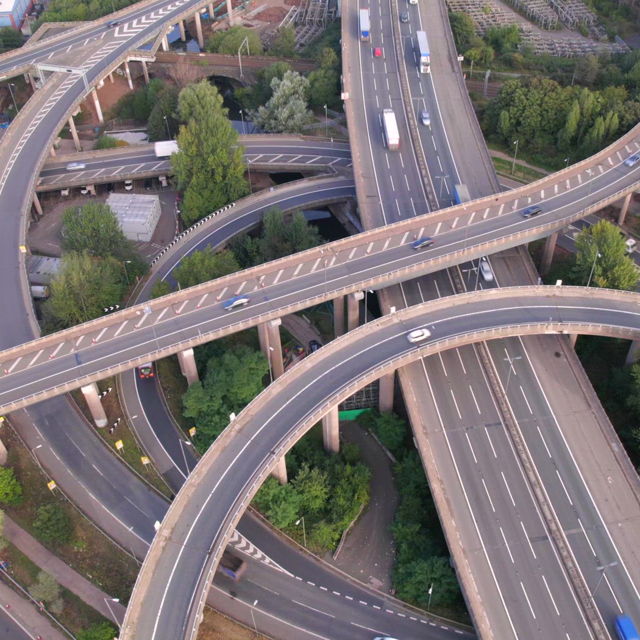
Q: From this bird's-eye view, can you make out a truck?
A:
Yes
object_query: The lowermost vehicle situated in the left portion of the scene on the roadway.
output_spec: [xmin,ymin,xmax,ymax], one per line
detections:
[216,551,255,585]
